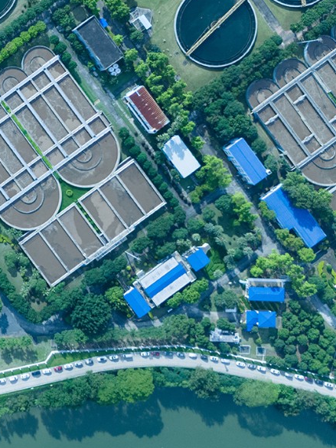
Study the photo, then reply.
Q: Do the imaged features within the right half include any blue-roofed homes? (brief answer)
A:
Yes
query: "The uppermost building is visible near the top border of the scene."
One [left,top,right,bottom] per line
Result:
[129,7,153,31]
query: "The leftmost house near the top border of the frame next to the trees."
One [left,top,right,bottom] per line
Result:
[74,16,123,71]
